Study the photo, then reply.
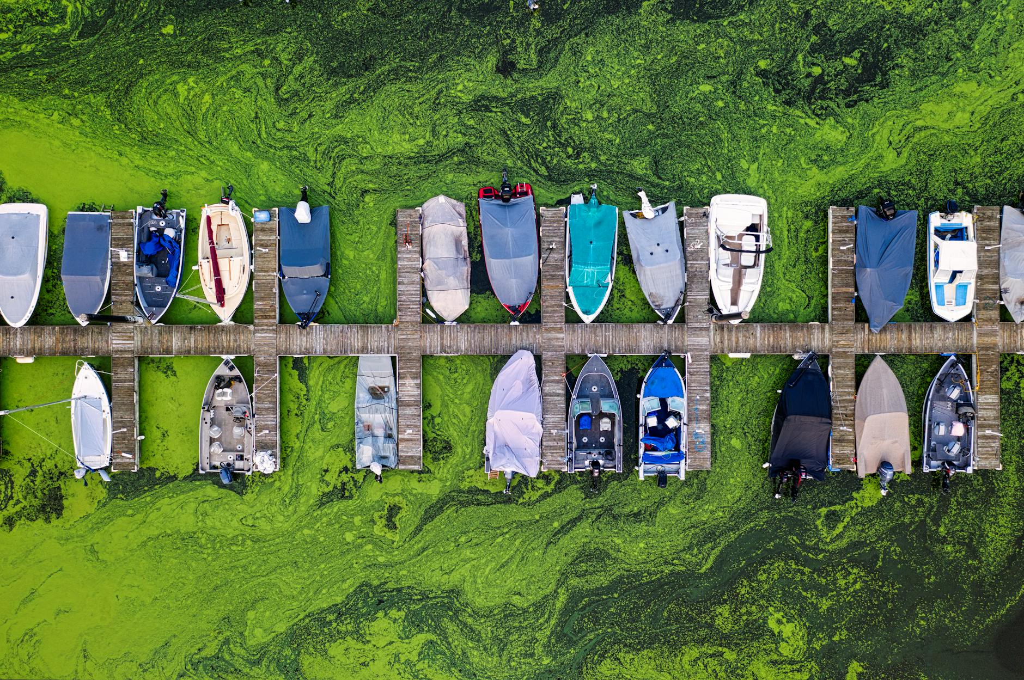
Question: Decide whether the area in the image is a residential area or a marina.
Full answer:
The picture captures a marina.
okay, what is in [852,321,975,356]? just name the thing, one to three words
pier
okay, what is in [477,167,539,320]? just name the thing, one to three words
boat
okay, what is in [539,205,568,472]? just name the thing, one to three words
pier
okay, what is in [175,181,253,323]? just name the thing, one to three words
boat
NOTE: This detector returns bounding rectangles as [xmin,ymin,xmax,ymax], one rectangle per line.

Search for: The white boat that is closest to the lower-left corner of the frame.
[0,360,115,490]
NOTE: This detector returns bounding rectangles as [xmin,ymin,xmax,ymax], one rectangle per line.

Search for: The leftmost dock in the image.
[0,324,114,357]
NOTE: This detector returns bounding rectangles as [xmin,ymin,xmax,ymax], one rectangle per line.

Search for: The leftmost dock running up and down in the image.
[110,208,143,473]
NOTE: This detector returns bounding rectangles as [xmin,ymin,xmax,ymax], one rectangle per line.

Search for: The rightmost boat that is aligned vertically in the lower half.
[913,355,974,497]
